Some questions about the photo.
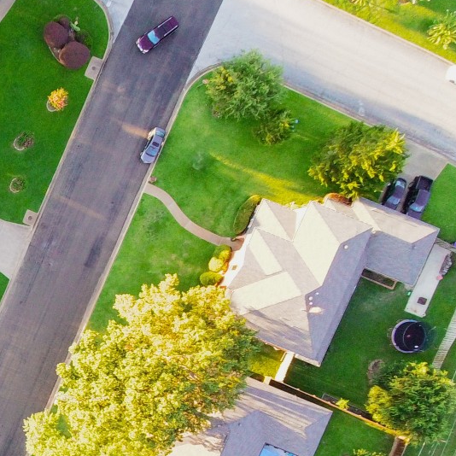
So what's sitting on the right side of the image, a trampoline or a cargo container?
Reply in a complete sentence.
The one visible on the right side of the image is a trampoline.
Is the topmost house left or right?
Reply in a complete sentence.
It is on the right.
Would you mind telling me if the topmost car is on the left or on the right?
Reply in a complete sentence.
You can find the topmost car on the left side of the picture.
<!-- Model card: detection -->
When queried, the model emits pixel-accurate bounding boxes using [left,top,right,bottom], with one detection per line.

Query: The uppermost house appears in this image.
[204,196,439,367]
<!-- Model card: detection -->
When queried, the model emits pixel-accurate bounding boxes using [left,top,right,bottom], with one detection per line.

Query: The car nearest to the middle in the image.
[139,125,167,166]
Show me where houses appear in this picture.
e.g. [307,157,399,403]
[218,371,334,456]
[204,196,439,367]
